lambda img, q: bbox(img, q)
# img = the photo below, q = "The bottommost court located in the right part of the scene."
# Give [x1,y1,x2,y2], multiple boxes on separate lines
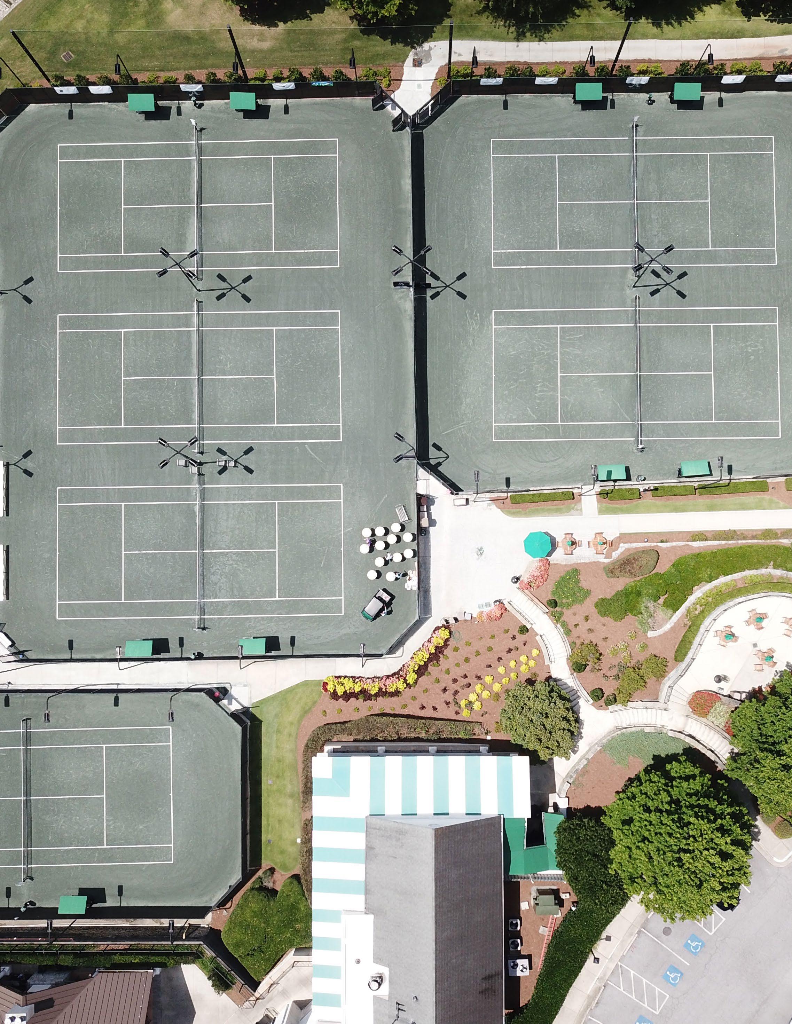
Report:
[440,287,792,462]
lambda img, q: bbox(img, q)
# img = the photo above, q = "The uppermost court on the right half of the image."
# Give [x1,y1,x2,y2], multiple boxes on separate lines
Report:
[439,116,792,288]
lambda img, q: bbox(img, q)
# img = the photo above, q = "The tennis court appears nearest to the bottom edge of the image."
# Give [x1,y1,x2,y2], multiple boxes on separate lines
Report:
[0,705,226,887]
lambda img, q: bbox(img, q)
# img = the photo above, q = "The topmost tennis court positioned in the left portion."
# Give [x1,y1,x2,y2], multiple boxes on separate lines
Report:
[6,118,391,293]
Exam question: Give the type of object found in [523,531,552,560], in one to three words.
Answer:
umbrella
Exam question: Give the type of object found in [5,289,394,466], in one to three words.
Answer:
tennis court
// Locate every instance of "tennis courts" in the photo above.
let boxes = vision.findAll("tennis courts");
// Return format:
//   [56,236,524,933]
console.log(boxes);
[4,462,397,641]
[6,118,391,293]
[5,289,394,466]
[0,705,226,887]
[440,287,792,462]
[439,116,792,288]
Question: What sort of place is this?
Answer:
sports ground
